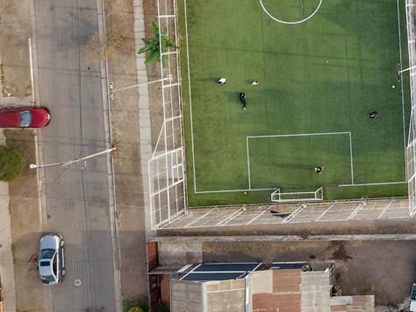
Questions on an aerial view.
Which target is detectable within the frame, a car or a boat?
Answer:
car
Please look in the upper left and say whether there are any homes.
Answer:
No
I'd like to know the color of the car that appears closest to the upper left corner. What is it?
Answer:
red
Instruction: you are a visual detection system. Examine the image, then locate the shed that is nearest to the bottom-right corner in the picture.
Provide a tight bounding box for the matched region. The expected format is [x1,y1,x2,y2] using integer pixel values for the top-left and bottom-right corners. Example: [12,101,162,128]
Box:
[331,294,375,312]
